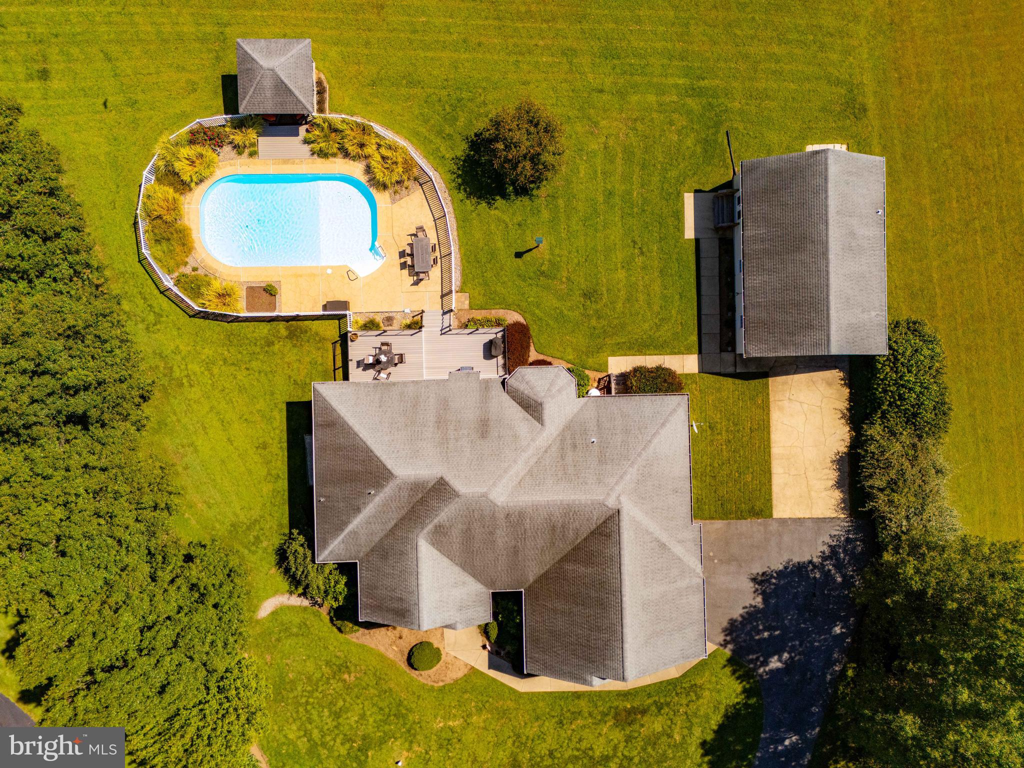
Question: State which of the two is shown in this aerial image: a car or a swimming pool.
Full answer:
The image shows a swimming pool.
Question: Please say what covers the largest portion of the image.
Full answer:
For the most part, this view shows grass.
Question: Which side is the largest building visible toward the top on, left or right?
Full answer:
The largest building visible toward the top appears in the right half of the scene.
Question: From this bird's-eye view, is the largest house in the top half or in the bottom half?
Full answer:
The largest house sits in the bottom half of the picture.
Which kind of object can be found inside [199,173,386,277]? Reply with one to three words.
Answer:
swimming pool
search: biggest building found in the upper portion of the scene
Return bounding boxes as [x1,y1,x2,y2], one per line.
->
[732,149,890,357]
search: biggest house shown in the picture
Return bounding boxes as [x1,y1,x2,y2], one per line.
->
[310,364,709,687]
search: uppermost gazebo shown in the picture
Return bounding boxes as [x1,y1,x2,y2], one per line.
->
[235,37,320,127]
